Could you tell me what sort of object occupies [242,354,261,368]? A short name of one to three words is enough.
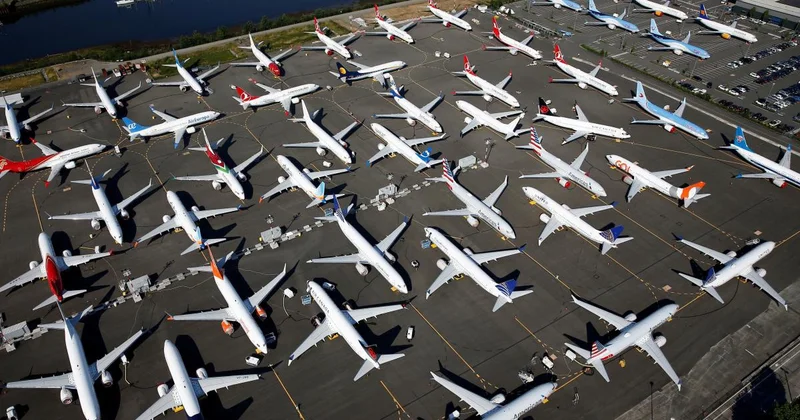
vehicle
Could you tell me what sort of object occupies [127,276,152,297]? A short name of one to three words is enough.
shed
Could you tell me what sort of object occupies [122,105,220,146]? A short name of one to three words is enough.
airplane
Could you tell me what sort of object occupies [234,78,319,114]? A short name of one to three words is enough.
airplane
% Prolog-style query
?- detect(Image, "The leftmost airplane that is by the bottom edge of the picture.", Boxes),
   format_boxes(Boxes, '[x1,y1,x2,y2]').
[0,301,148,420]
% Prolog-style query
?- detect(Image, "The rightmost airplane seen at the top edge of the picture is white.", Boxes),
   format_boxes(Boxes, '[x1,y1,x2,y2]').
[691,5,756,44]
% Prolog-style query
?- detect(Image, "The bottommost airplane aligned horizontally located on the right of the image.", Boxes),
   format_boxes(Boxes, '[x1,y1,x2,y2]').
[428,369,556,420]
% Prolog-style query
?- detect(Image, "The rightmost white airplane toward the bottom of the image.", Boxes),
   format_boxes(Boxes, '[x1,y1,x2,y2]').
[679,233,792,307]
